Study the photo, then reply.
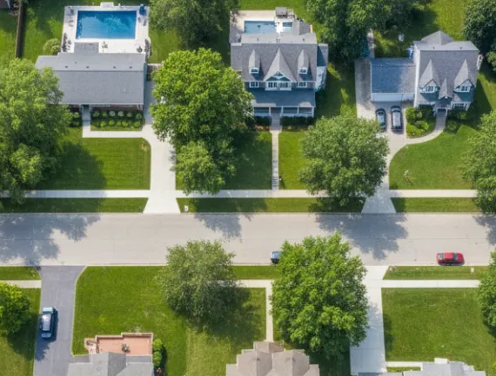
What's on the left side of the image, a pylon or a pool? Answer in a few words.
pool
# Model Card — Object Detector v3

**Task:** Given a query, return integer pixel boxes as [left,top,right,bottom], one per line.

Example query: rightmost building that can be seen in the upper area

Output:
[370,26,482,115]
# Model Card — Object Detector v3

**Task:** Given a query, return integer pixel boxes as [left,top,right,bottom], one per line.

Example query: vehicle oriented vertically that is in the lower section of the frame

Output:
[41,308,56,340]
